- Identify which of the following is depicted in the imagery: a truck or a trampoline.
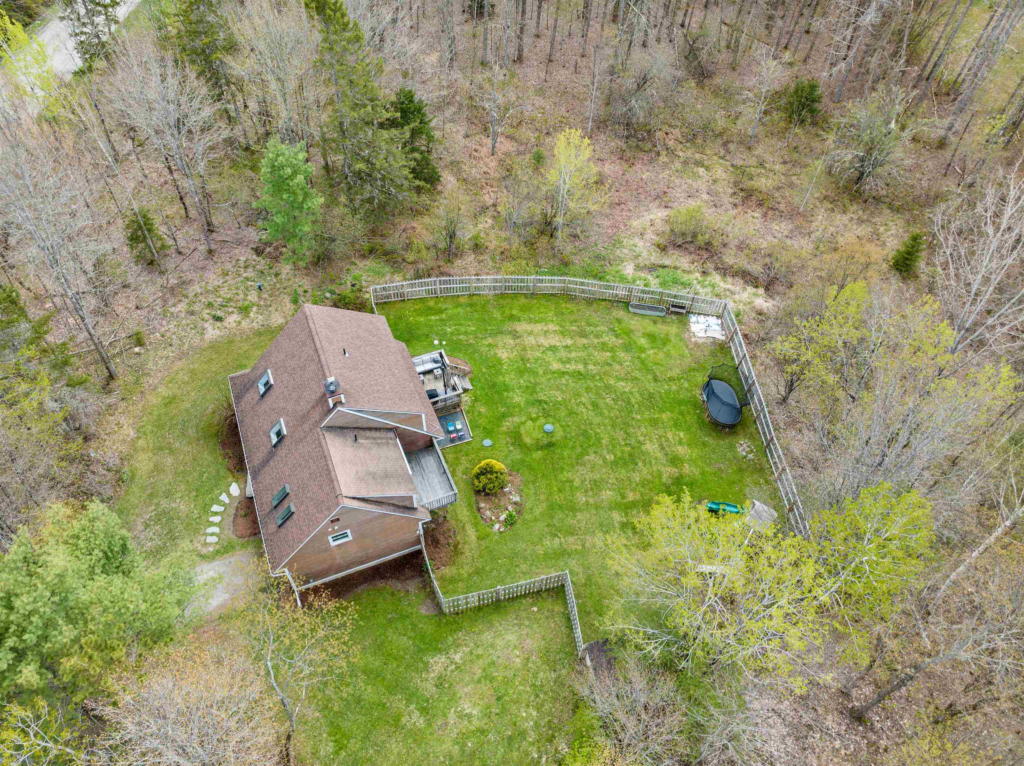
trampoline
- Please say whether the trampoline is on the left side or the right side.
right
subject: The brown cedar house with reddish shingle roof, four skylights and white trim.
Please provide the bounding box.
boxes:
[227,303,458,608]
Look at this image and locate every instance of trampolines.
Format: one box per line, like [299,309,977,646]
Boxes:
[697,363,751,431]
